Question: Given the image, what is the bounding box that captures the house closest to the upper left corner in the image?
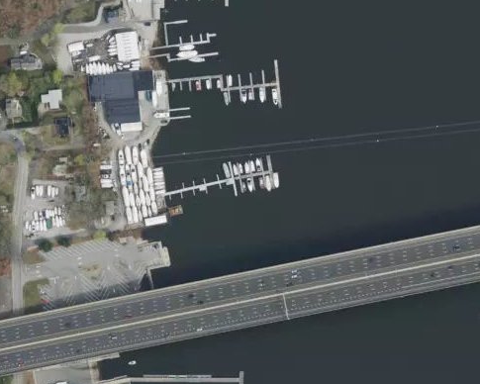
[10,51,43,70]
